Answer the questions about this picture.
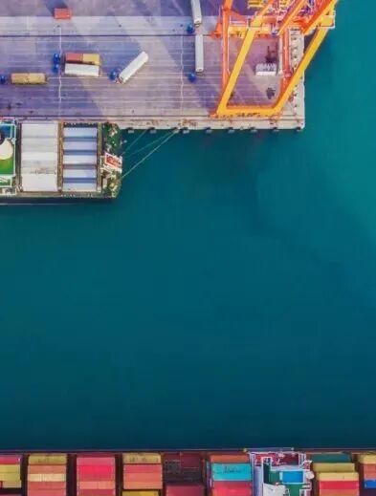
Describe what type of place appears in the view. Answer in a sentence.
This looks like a port.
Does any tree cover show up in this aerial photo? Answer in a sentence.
No, there's no tree cover in this view.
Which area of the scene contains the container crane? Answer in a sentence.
The container crane appears toward the top right of the photo.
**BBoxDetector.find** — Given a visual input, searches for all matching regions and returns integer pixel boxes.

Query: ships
[0,441,376,496]
[0,114,123,201]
